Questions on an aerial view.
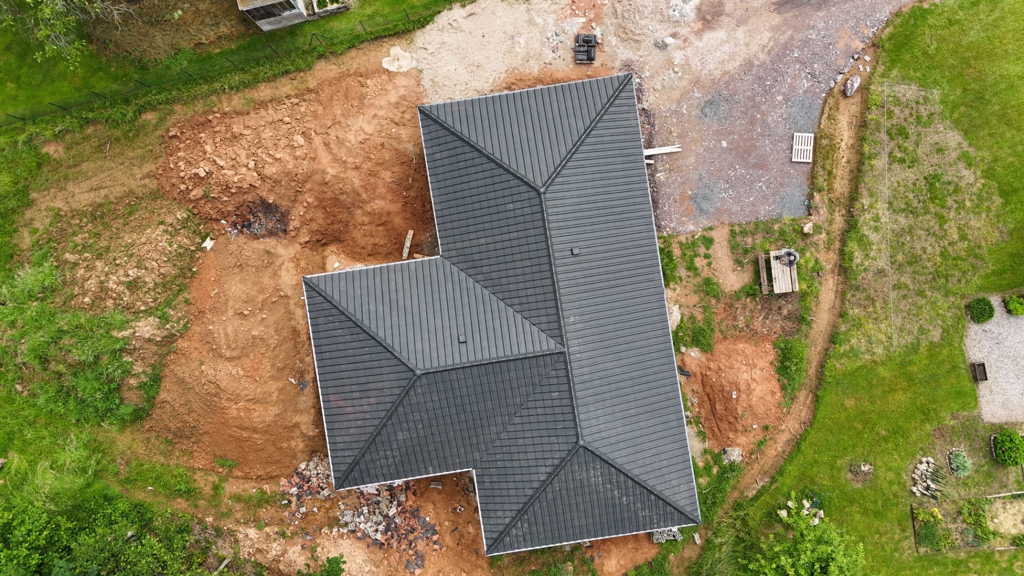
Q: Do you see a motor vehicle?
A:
No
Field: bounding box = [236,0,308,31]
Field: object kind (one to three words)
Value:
shed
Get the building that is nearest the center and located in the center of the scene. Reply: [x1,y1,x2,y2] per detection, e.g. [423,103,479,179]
[301,70,703,559]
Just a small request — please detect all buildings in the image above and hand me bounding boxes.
[301,70,703,559]
[236,0,308,31]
